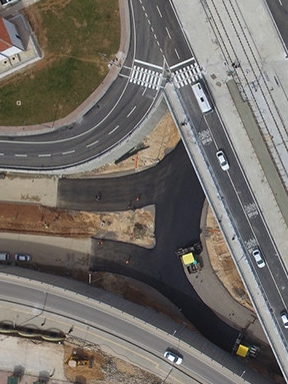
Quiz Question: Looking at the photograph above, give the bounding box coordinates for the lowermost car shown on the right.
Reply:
[163,348,184,363]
